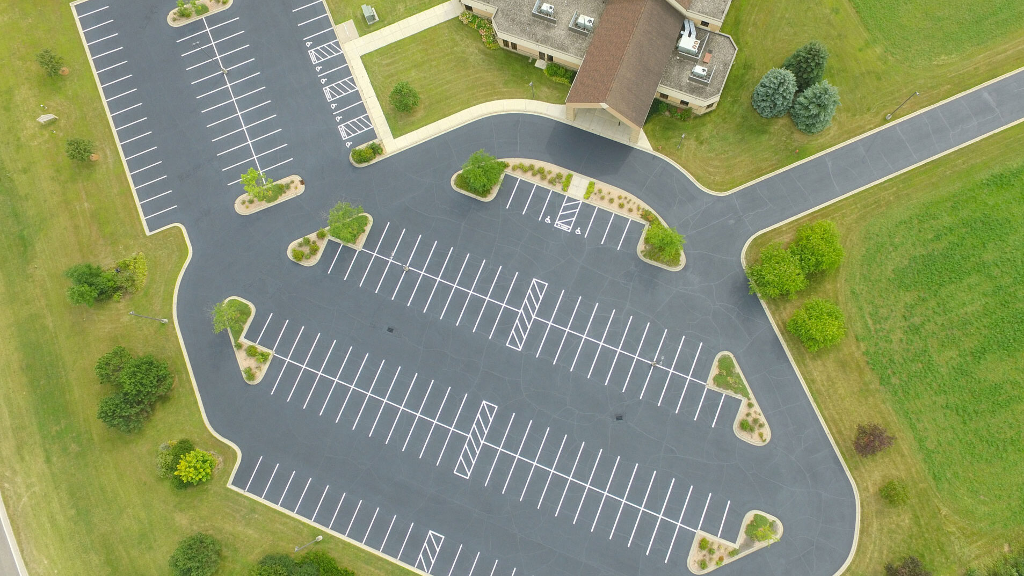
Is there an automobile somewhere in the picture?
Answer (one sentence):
No, there is no automobile in the image.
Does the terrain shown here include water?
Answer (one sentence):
No, there is no water in the image.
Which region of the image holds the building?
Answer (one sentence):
The building appears toward the top of the photo.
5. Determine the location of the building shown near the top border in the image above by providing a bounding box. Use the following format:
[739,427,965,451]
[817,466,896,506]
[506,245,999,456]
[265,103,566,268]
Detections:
[433,0,738,143]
